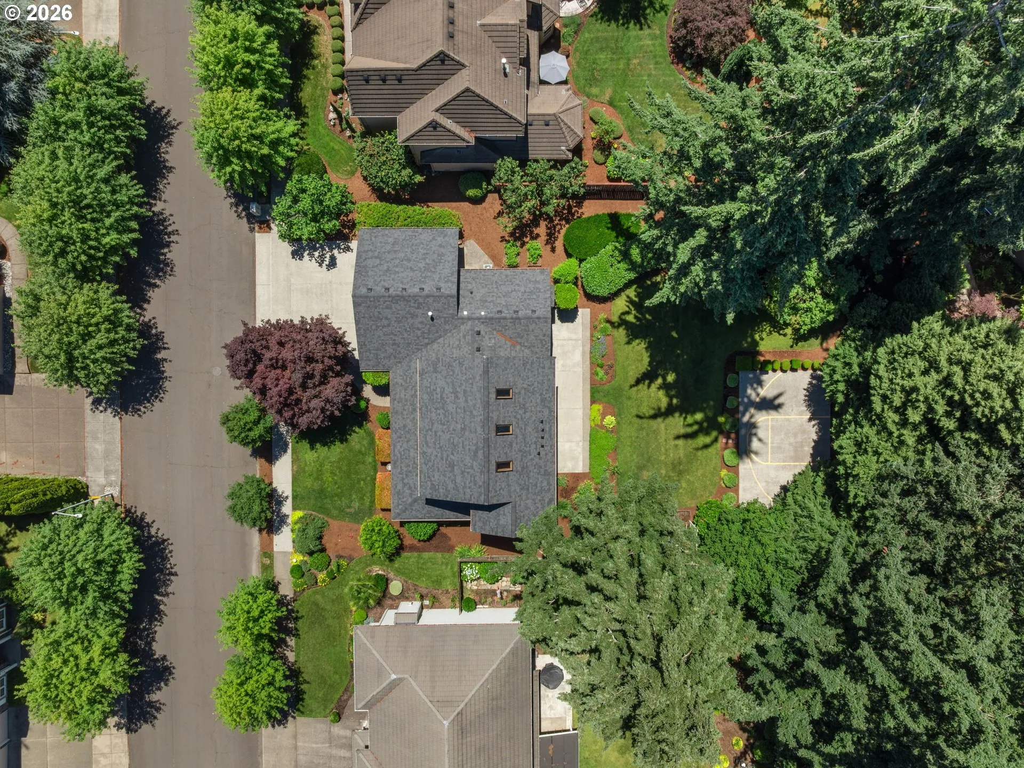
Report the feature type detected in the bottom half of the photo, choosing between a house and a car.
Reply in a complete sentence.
Visible in the bottom half of the photo is a house.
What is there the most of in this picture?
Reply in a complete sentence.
For the most part, this view shows trees.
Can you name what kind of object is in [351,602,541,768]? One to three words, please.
house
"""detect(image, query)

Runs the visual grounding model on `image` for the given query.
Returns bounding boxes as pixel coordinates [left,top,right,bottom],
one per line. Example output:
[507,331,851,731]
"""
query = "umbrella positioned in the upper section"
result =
[540,56,568,85]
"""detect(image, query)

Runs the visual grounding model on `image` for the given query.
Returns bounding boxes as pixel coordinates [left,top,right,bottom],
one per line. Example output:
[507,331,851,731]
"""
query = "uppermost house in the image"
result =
[342,0,584,169]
